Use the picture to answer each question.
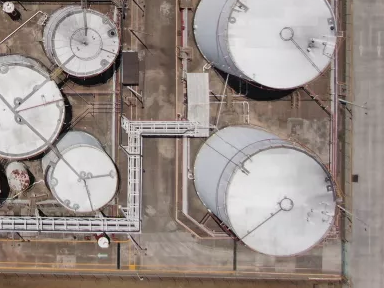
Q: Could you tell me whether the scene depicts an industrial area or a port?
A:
industrial area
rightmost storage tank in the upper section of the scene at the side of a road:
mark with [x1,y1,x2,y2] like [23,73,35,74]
[189,0,340,90]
